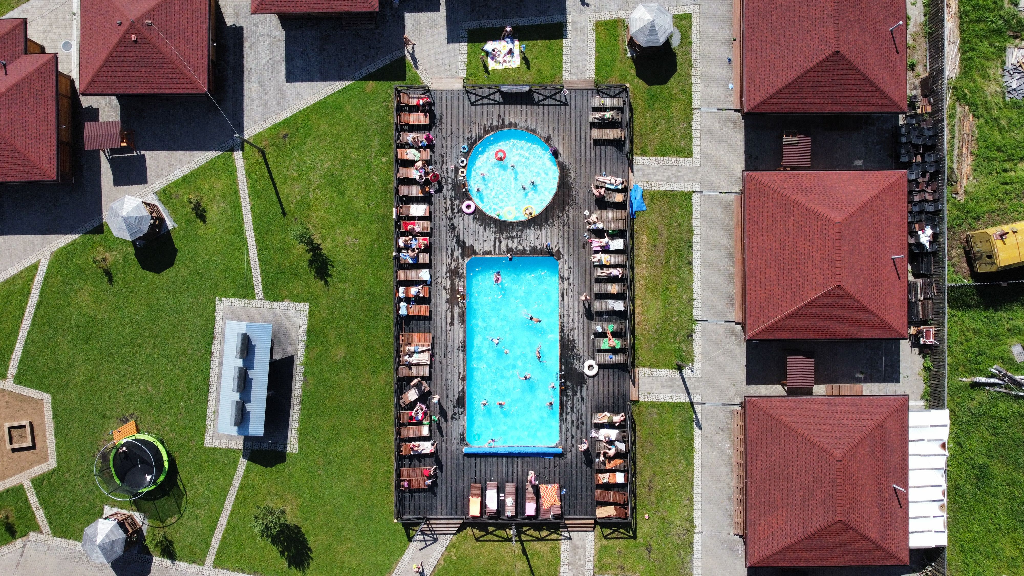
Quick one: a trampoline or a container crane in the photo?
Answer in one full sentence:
There is a trampoline in the scene.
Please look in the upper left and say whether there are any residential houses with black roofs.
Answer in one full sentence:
No, there's no residential house with a black roof to be seen in the upper left.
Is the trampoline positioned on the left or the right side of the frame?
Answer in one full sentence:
The trampoline sits on the left side.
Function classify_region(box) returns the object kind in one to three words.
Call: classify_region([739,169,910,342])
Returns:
house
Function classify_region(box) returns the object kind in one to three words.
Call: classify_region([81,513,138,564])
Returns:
gazebo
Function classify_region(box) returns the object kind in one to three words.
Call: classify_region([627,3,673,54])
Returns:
gazebo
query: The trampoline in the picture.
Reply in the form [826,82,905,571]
[94,434,171,500]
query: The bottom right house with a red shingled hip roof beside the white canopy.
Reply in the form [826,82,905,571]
[741,394,911,568]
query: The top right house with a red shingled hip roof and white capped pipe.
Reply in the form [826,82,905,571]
[738,0,909,115]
